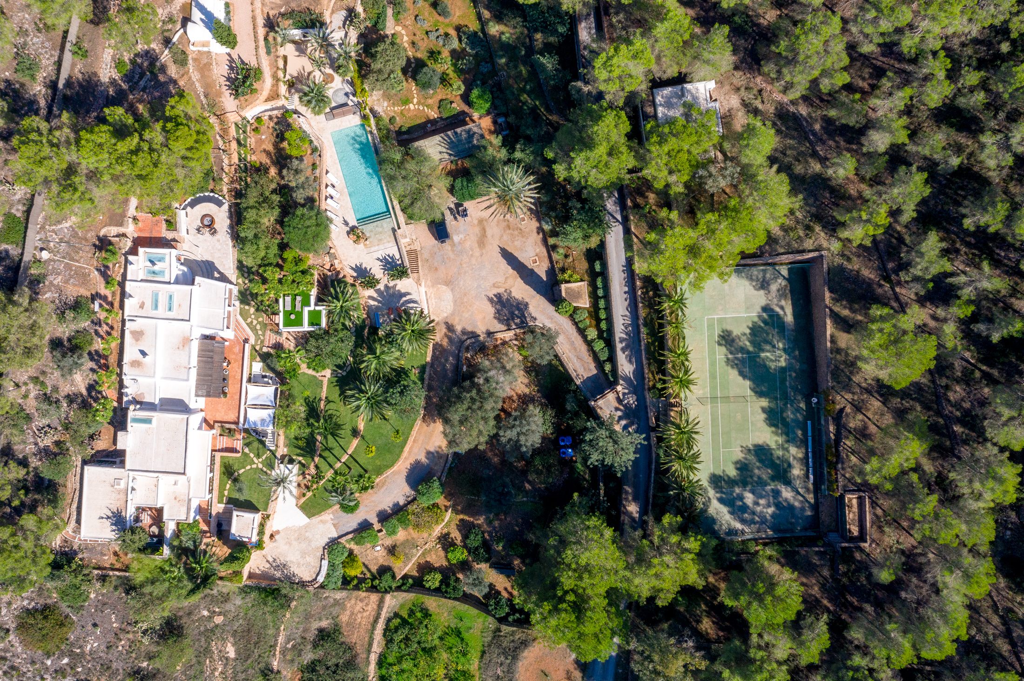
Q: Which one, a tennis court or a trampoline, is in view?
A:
tennis court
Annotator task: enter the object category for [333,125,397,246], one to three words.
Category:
swimming pool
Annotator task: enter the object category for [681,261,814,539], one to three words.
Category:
tennis court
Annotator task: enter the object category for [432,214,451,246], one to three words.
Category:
car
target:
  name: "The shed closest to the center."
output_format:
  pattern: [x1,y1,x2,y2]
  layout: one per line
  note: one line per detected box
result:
[559,281,589,308]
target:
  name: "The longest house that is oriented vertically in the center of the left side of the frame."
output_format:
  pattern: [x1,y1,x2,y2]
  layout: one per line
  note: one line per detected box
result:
[80,248,246,557]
